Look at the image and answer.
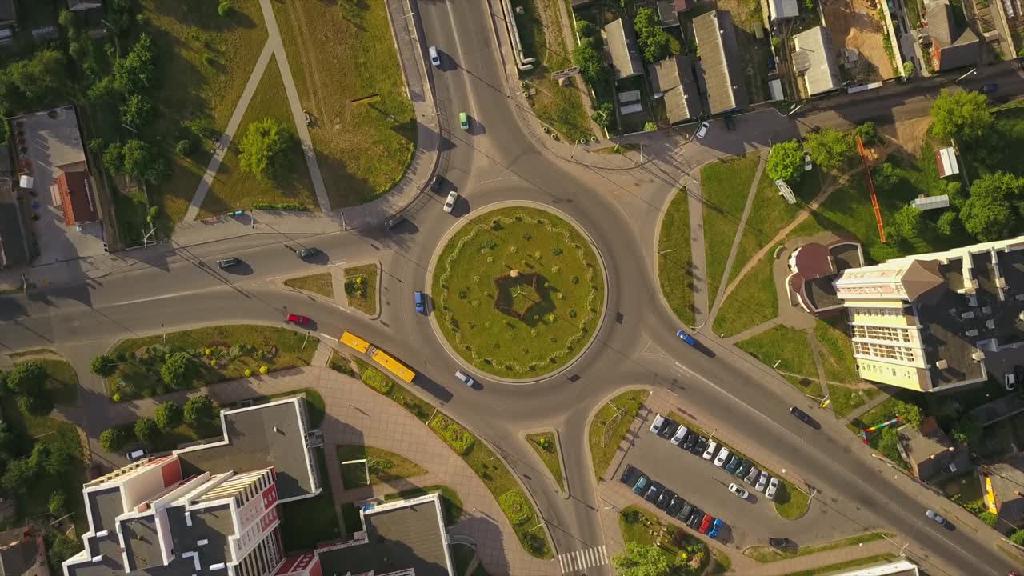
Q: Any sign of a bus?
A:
Yes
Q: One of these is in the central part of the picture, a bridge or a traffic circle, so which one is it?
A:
traffic circle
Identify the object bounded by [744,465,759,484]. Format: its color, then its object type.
gray car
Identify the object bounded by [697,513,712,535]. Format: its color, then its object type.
red car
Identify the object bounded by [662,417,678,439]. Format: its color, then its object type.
black car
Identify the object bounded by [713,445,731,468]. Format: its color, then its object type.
white car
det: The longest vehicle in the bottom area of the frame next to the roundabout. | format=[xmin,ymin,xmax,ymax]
[336,333,420,385]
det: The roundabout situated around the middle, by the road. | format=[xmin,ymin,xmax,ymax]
[425,200,607,382]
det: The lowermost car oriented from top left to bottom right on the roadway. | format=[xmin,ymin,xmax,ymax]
[923,509,946,526]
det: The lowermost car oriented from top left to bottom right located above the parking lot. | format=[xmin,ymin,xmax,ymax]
[789,407,810,423]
